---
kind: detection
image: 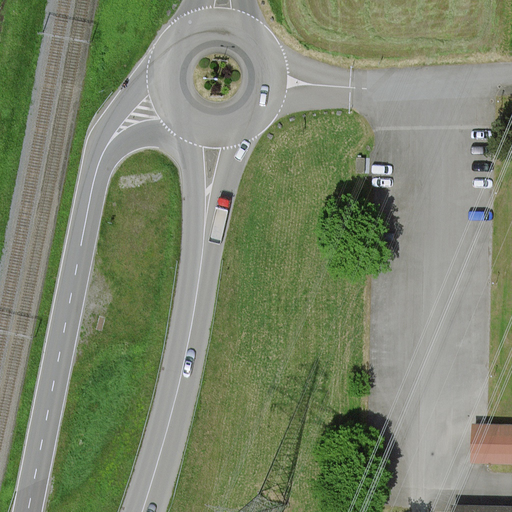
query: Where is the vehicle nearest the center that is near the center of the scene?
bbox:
[208,199,231,246]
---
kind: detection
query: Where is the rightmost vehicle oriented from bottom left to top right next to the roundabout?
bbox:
[234,138,251,160]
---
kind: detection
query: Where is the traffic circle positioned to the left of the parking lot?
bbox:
[146,7,288,149]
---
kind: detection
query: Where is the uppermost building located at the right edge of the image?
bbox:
[470,423,512,464]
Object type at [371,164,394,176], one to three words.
vehicle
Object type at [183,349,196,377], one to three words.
vehicle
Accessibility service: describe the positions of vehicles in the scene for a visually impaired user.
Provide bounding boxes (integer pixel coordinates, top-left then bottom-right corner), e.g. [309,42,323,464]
[473,178,494,188]
[208,199,231,246]
[468,209,494,220]
[371,164,394,176]
[470,130,492,140]
[470,145,492,156]
[472,161,494,172]
[372,176,394,188]
[144,502,156,512]
[258,84,270,107]
[183,349,196,377]
[234,138,251,160]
